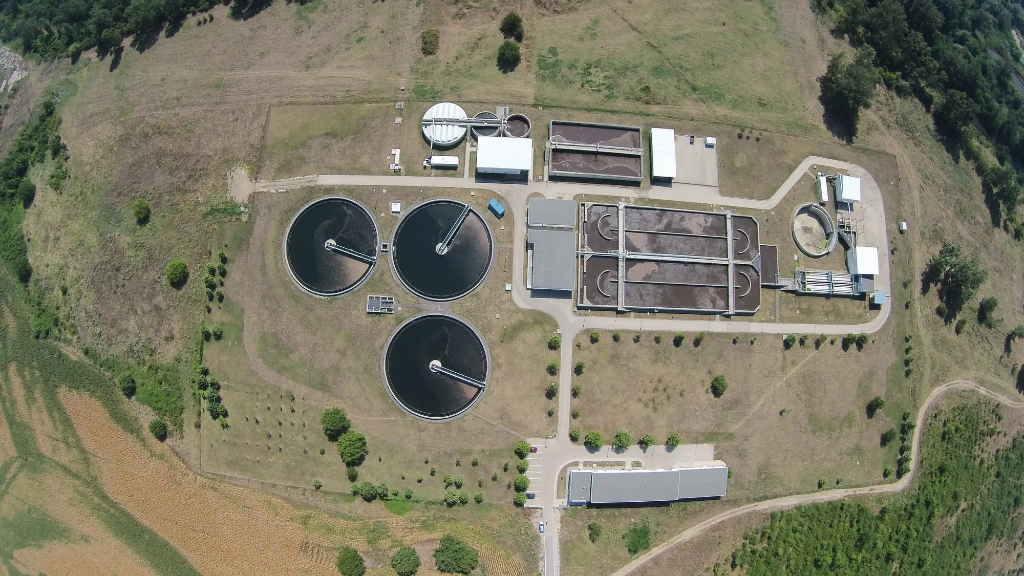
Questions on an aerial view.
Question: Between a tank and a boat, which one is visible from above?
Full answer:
This aerial view contains a tank.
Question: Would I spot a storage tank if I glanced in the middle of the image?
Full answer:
Yes, there is a storage tank in the middle of the image.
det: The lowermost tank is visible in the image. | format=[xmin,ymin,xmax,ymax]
[383,311,491,422]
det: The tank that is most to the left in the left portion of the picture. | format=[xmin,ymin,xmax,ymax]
[284,194,382,299]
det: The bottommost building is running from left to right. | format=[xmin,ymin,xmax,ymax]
[568,464,727,507]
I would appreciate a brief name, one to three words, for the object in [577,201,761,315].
storage tank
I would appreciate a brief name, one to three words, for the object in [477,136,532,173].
house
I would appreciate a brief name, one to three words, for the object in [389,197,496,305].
storage tank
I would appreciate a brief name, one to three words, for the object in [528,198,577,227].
building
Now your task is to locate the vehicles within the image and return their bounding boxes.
[539,521,545,534]
[528,447,540,453]
[525,493,536,500]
